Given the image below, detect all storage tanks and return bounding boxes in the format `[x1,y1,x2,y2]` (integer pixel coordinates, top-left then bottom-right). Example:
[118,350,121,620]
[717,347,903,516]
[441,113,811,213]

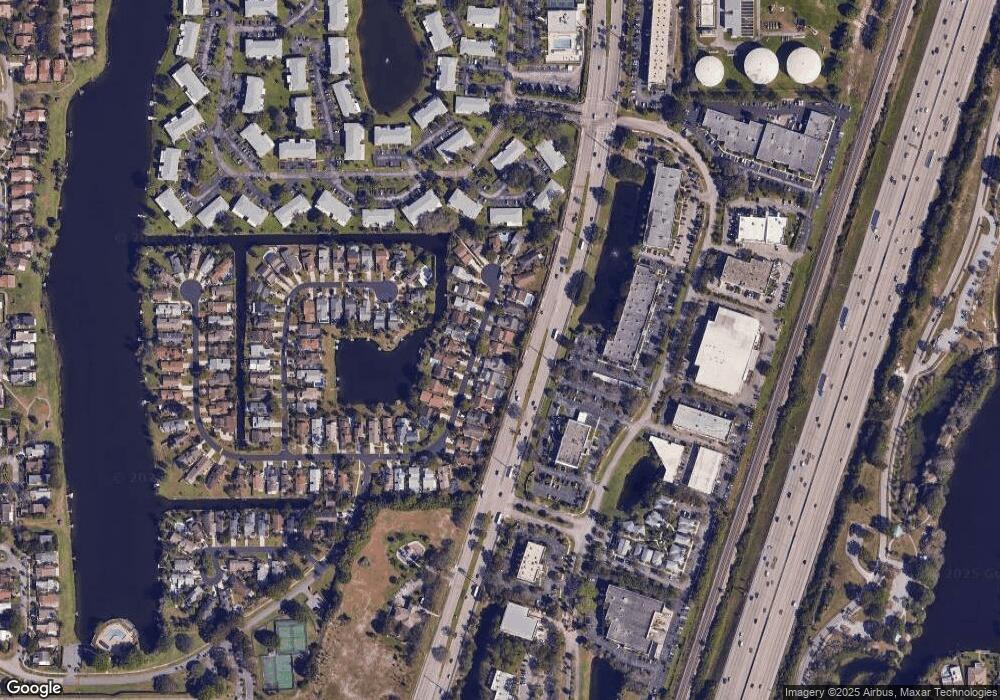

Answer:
[786,46,823,83]
[695,56,726,86]
[743,46,780,83]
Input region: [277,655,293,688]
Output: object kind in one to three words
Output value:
tennis court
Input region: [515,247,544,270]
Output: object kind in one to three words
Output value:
house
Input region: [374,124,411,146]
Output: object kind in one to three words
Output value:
building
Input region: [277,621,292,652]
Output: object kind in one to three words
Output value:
tennis court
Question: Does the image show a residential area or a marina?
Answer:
residential area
